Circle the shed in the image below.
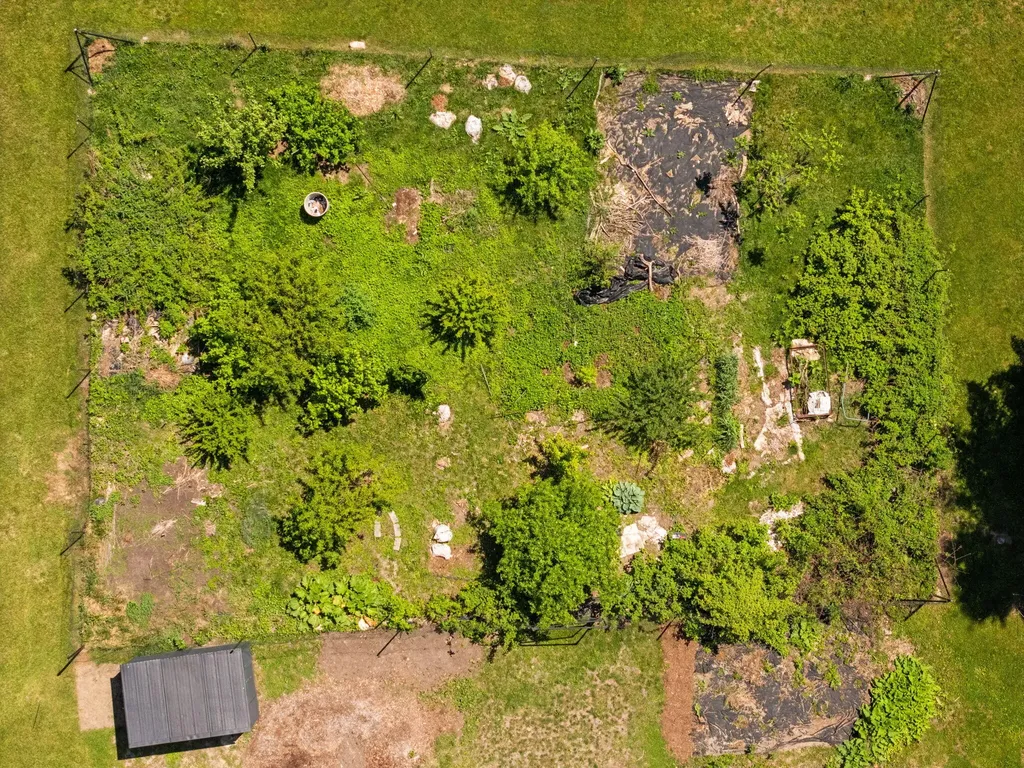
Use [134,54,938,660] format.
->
[118,643,258,748]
